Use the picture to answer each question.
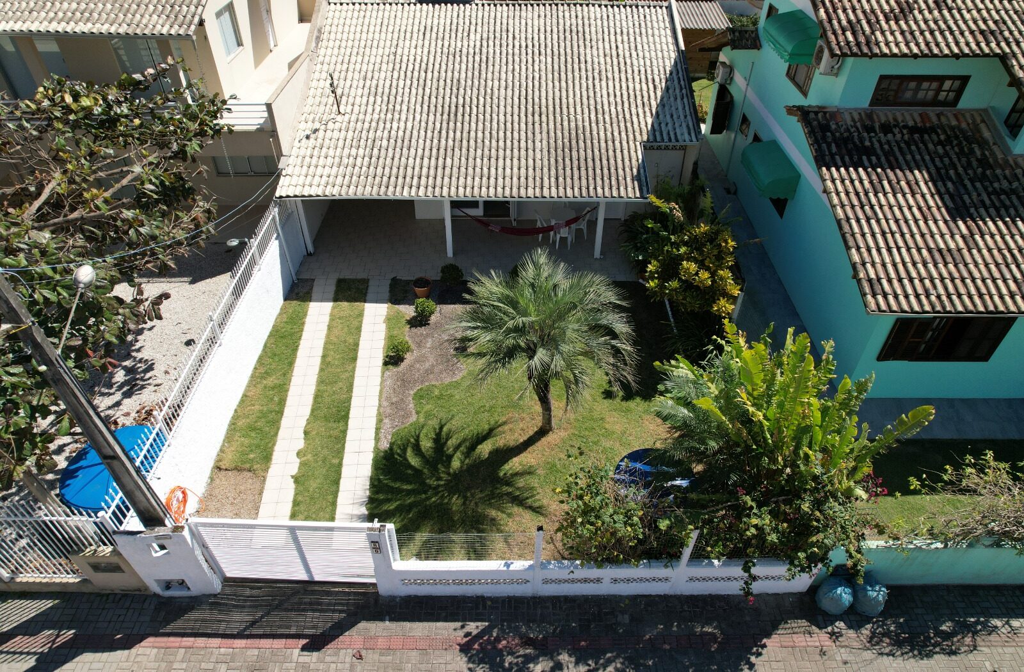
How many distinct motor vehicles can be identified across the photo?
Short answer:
0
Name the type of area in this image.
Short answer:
residential area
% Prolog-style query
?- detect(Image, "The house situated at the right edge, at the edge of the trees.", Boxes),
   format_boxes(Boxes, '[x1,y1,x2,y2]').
[707,0,1024,397]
